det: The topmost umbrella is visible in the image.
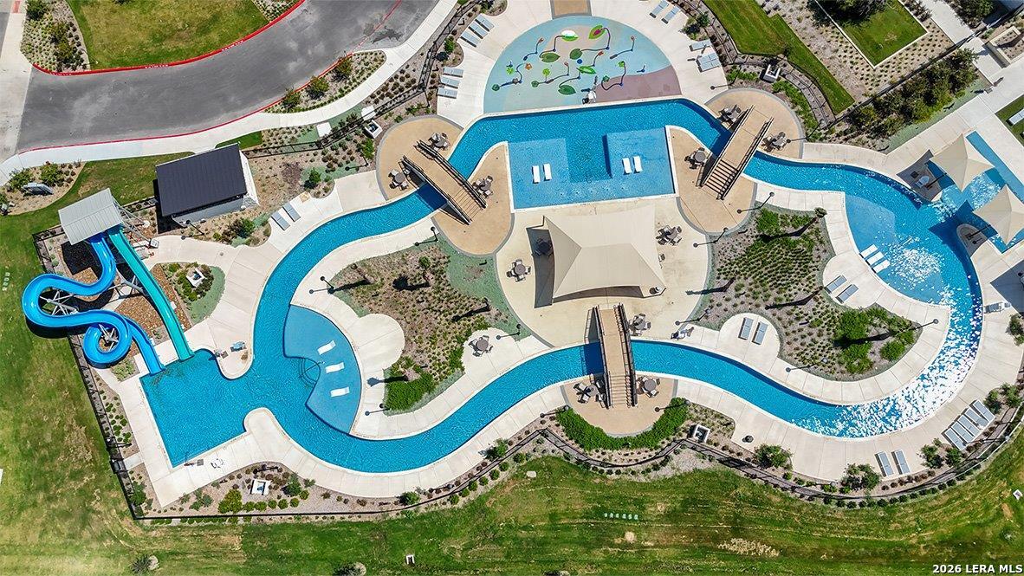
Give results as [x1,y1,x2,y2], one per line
[925,133,994,192]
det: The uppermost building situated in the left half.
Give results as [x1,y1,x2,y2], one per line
[156,142,258,222]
